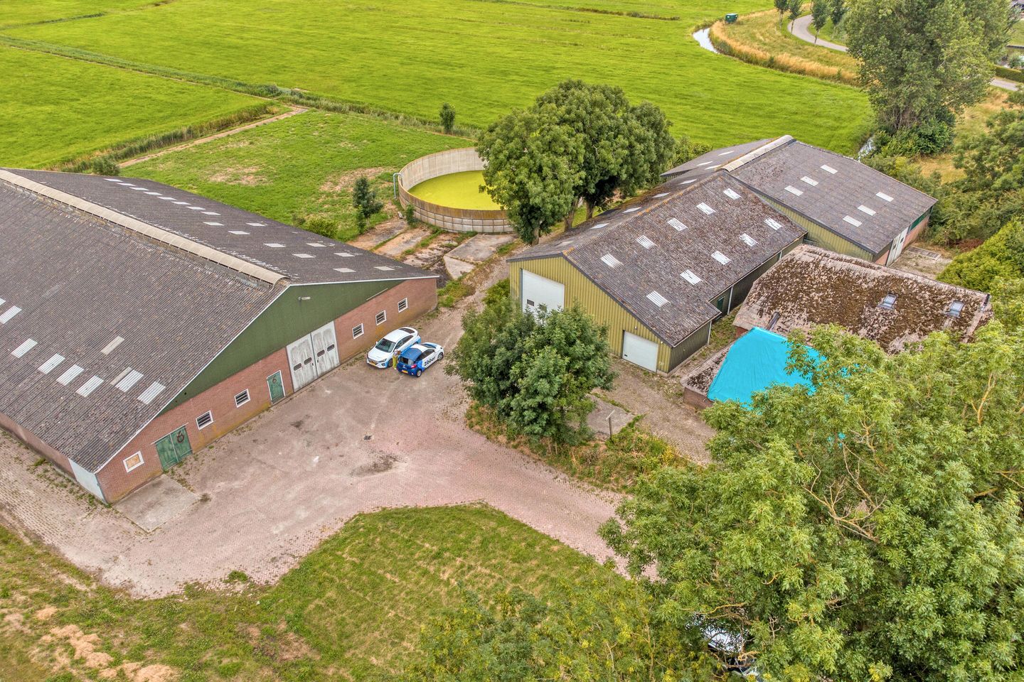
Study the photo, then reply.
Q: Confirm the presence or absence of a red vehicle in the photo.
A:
No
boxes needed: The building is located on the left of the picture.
[0,165,442,504]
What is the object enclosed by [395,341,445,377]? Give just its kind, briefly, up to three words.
car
